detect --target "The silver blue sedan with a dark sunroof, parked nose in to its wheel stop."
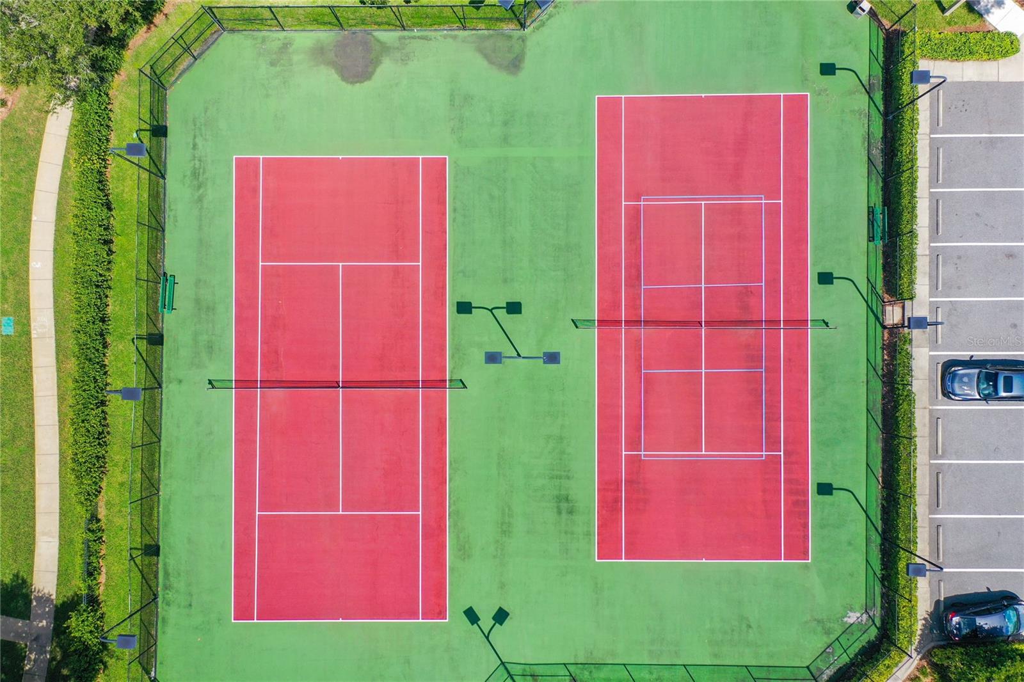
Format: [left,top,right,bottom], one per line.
[943,361,1024,406]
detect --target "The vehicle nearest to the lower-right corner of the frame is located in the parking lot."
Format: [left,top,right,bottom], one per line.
[941,590,1024,638]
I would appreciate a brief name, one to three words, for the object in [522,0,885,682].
tennis court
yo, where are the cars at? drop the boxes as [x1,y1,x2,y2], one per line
[943,361,1024,406]
[941,590,1024,638]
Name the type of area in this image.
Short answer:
sports ground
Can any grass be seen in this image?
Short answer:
Yes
